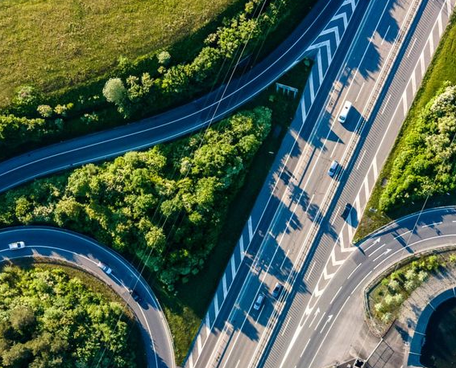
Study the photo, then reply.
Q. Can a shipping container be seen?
No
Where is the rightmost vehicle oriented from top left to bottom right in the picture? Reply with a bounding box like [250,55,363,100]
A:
[127,287,142,303]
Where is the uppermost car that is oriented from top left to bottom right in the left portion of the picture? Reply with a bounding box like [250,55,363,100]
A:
[97,260,111,275]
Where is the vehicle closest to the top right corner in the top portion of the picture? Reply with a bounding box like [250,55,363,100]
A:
[339,100,353,122]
